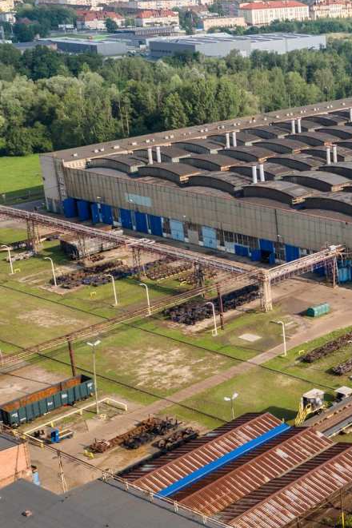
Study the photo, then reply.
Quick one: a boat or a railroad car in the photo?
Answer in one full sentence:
Visible in the photo is a railroad car.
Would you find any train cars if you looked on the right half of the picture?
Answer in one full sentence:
No, the scene shows no train car on the right half of the picture.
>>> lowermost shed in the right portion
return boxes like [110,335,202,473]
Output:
[114,409,352,528]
